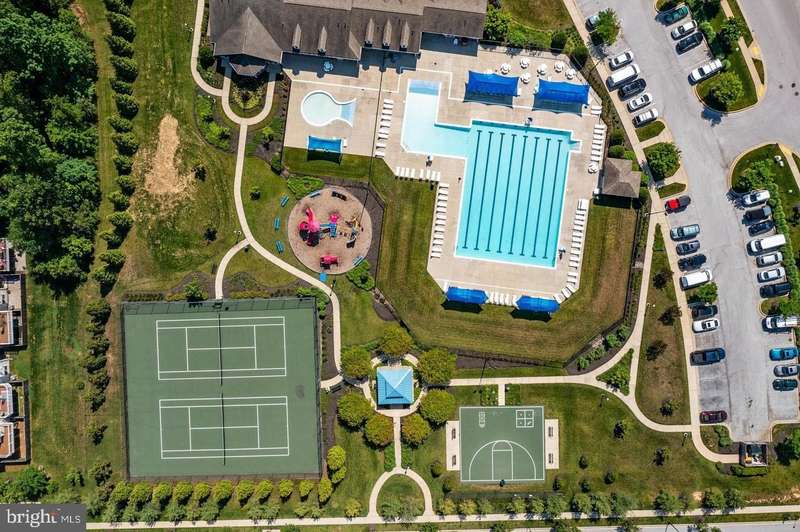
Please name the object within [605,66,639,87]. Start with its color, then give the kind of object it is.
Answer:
white vehicle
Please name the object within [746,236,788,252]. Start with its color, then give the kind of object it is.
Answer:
white vehicle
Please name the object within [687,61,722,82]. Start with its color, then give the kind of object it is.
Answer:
white truck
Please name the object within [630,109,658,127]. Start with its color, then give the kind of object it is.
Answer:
white car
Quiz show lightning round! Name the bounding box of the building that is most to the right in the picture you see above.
[600,158,641,198]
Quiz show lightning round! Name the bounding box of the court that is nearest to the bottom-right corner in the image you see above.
[459,406,545,482]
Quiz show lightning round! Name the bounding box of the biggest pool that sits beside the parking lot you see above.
[399,77,584,270]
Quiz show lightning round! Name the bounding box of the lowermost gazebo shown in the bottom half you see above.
[377,367,412,408]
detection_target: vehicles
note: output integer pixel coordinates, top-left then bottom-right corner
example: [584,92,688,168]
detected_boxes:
[746,220,777,234]
[746,236,788,252]
[670,226,702,240]
[687,61,722,82]
[740,206,774,223]
[678,270,710,286]
[758,283,791,297]
[698,410,727,423]
[689,349,725,363]
[630,109,658,127]
[605,66,639,87]
[691,319,720,332]
[757,268,784,281]
[617,80,645,98]
[626,95,652,112]
[607,52,634,70]
[771,378,797,391]
[755,252,781,266]
[663,195,693,211]
[674,241,701,254]
[773,364,799,377]
[674,34,704,53]
[670,20,698,40]
[689,305,719,319]
[583,12,609,30]
[741,192,771,207]
[660,5,691,25]
[768,348,797,360]
[762,316,797,330]
[676,255,706,270]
